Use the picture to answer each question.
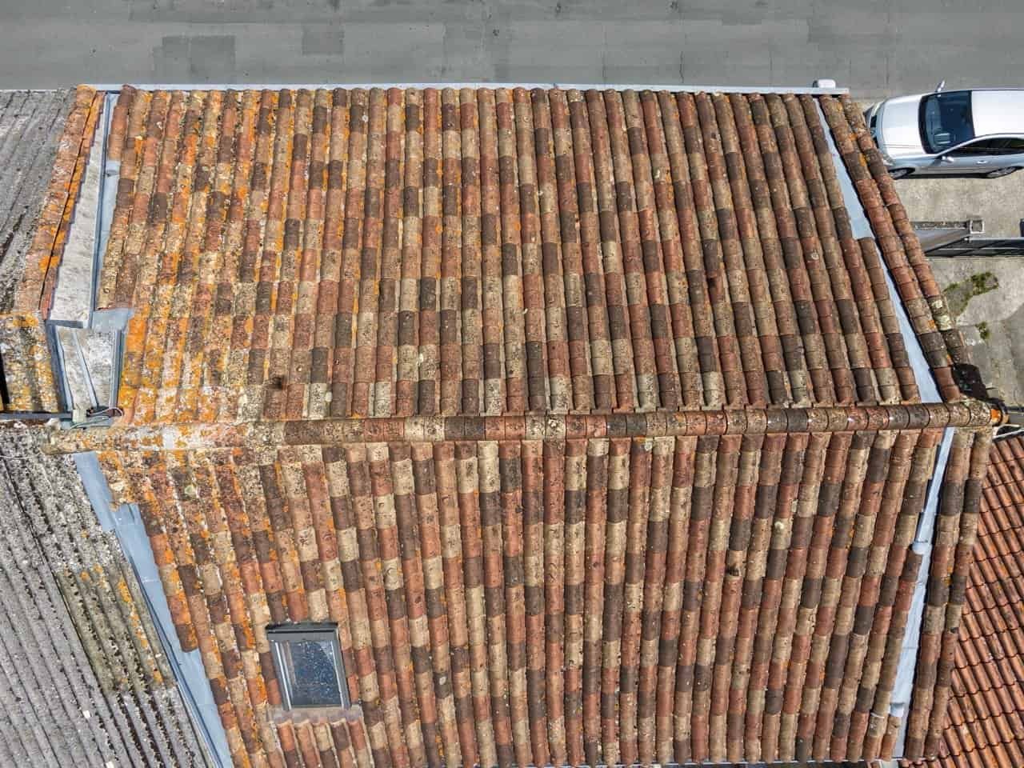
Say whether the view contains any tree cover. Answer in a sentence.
No, the scene doesn't show any tree cover.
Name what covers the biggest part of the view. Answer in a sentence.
The bulk of the photo consists of buildings.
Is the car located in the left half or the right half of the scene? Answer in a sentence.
The car appears in the right half of the scene.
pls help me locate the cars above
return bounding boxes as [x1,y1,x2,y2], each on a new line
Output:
[860,85,1024,176]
